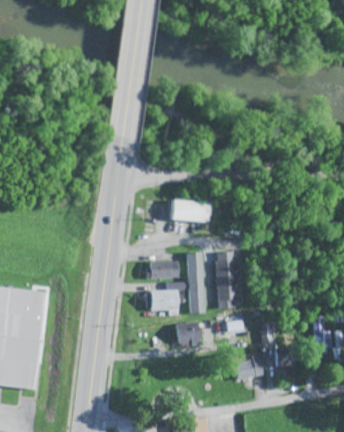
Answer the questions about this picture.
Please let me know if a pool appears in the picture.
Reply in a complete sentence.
No, there isn't any pool down there.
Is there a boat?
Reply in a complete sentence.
No, there's no boat here.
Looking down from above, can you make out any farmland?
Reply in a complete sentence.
No, the scene doesn't show any farmland.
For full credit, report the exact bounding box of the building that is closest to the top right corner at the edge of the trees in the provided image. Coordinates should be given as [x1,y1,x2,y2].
[170,198,212,223]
